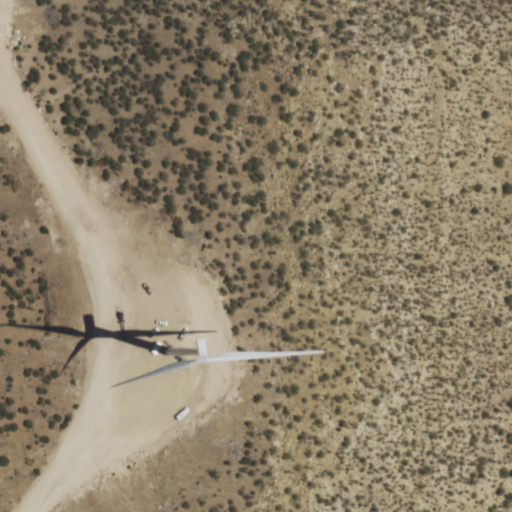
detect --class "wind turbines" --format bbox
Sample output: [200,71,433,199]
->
[112,338,320,386]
